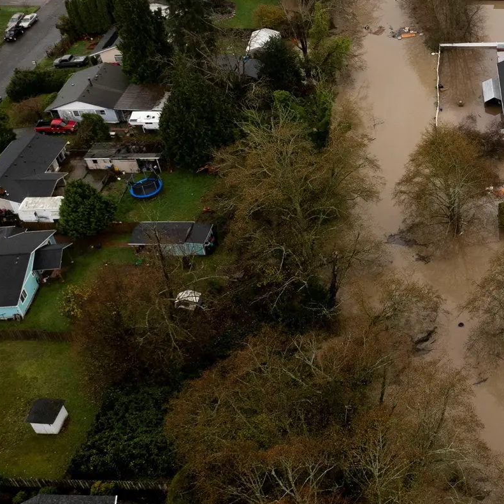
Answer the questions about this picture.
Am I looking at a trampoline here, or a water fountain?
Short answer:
trampoline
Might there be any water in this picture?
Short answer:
Yes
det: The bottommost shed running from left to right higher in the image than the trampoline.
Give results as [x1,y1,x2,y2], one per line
[84,142,159,170]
